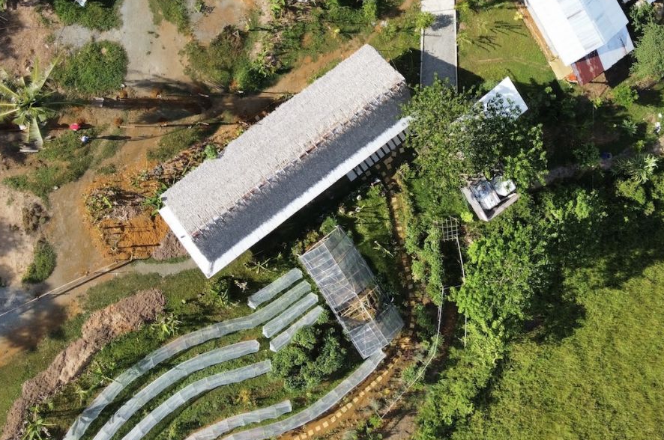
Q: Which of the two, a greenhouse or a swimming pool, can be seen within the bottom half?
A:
greenhouse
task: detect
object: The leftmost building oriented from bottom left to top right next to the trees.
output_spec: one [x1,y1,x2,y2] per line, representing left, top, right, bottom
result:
[157,43,411,277]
